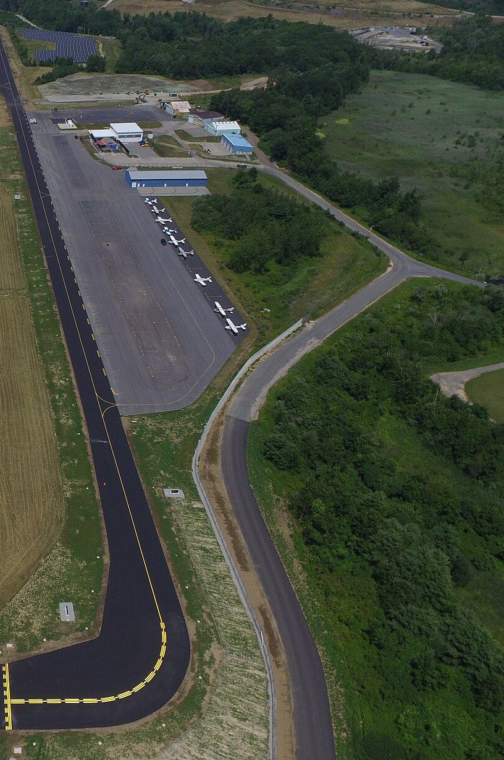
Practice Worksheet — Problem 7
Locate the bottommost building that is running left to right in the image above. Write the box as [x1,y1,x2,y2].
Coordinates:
[126,171,210,187]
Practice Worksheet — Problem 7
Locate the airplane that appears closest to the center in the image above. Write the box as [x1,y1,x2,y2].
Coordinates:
[226,318,249,333]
